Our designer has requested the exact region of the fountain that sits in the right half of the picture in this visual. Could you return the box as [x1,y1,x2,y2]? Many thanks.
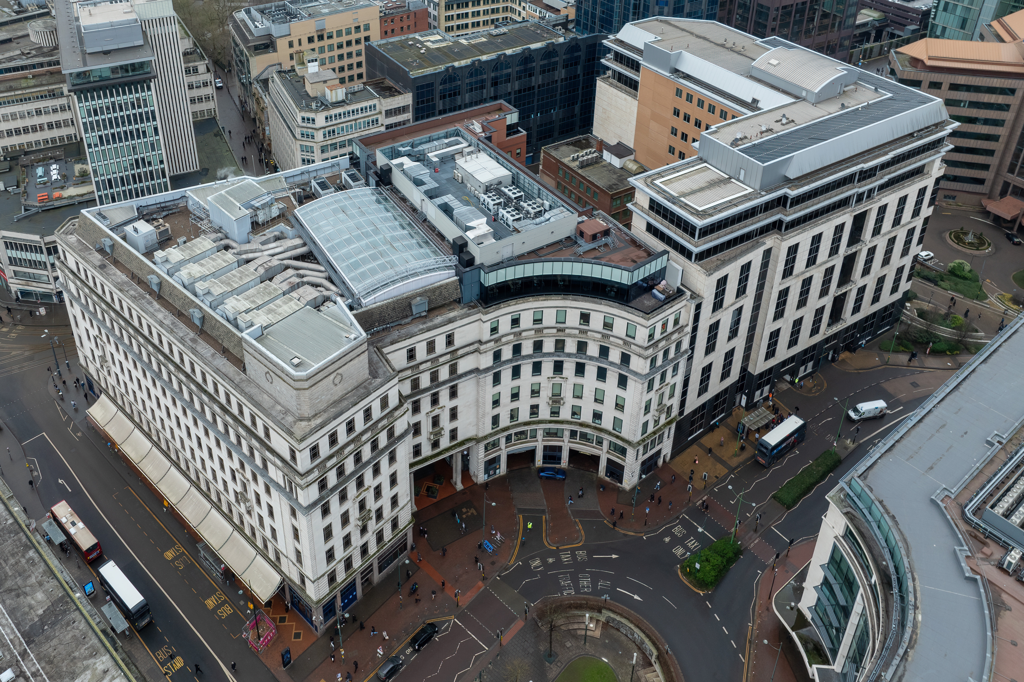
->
[945,225,996,252]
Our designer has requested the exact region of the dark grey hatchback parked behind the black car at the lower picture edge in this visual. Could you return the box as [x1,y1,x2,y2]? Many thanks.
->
[374,653,403,682]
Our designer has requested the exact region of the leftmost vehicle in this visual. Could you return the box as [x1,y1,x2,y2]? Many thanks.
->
[51,503,103,563]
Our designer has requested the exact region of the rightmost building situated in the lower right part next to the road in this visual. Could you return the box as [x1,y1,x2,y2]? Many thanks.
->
[771,312,1024,682]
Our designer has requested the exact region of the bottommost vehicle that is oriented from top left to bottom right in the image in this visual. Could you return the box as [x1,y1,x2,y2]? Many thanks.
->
[96,561,155,635]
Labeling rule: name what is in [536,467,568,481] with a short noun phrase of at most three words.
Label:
car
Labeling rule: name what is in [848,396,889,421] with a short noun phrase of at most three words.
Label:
vehicle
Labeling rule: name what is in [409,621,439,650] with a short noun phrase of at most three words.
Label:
car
